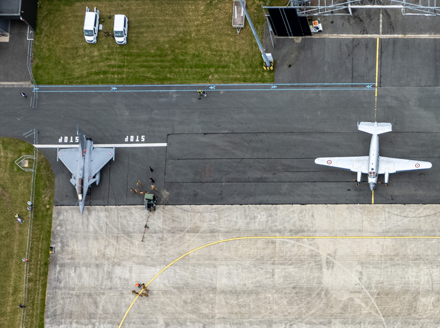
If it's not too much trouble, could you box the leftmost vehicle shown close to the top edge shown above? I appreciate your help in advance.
[82,9,97,43]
